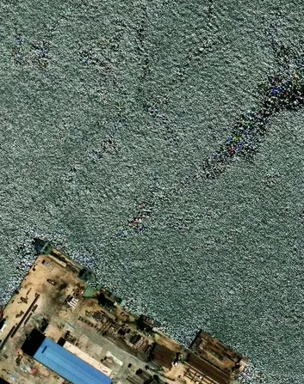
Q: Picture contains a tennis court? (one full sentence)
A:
No, the picture doesn't show any tennis court.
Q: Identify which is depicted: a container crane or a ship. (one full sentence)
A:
There is a ship in the scene.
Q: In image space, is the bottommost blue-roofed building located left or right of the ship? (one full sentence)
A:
Looking at the photo, the bottommost blue-roofed building lies to the left of the ship.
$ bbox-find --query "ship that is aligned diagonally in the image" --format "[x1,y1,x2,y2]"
[190,331,246,379]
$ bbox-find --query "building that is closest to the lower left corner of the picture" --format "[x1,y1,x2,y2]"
[33,338,112,384]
